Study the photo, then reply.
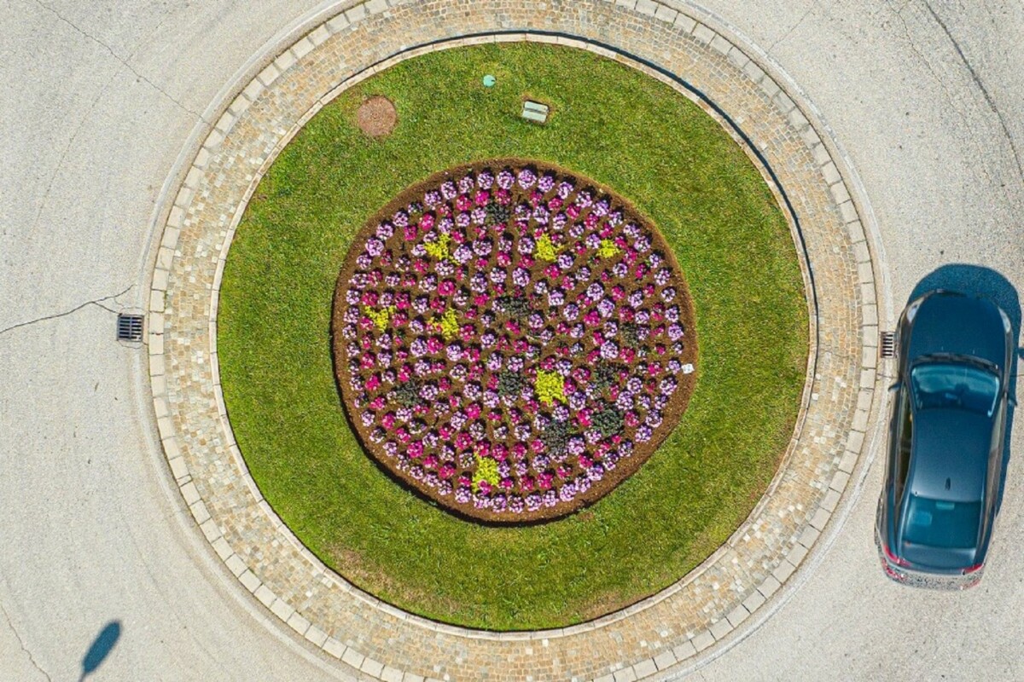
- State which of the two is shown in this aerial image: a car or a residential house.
car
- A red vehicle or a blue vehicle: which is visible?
blue vehicle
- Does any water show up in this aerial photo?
No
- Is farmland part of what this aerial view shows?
No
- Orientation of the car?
vertically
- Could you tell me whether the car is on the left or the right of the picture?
right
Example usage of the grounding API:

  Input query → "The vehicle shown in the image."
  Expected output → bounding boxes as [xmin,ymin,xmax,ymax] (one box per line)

[873,289,1022,590]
